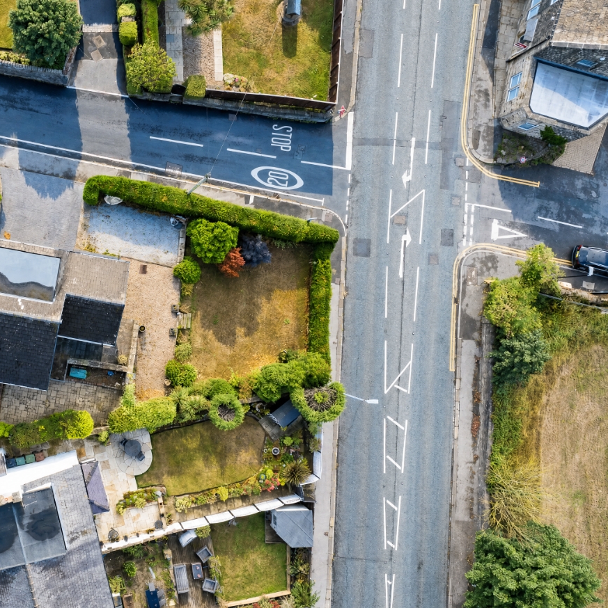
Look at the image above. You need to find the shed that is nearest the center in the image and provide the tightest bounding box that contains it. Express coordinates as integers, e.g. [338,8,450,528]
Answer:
[268,406,300,431]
